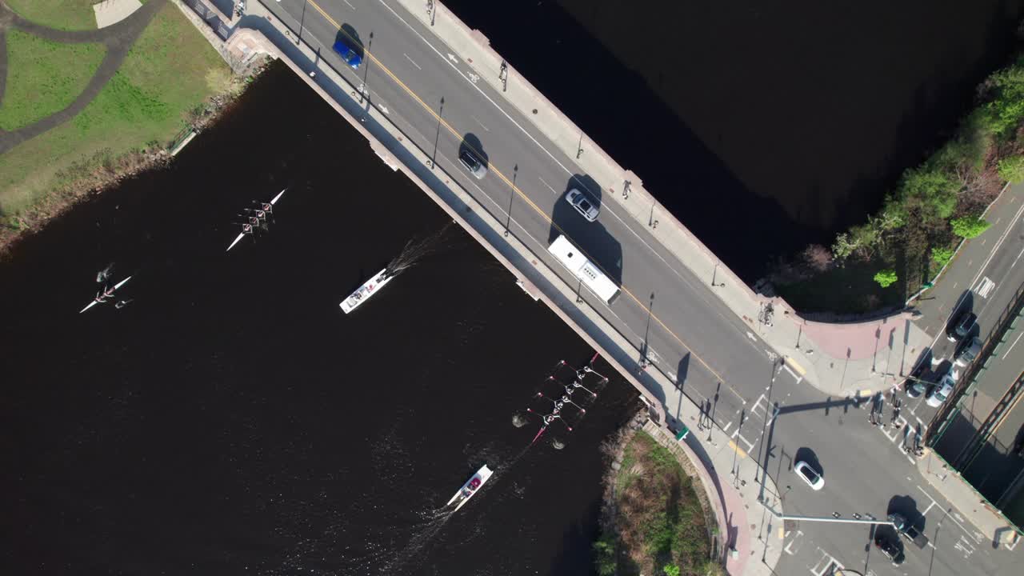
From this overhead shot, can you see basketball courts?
No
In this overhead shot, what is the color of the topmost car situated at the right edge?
black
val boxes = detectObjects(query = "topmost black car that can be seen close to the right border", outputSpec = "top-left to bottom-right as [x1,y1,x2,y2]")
[944,306,977,343]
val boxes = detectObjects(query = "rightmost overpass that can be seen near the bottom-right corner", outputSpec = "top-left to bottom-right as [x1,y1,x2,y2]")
[925,446,1024,533]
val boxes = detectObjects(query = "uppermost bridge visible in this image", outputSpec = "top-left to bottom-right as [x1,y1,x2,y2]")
[197,0,786,433]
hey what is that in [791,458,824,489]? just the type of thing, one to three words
car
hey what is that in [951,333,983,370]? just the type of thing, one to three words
car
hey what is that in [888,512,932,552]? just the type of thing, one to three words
truck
